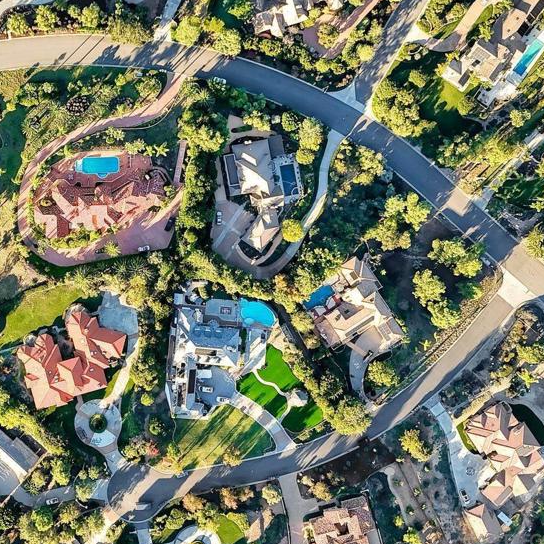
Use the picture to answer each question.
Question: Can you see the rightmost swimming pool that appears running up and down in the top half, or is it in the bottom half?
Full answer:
The top half of the photo is where the rightmost swimming pool that appears running up and down is.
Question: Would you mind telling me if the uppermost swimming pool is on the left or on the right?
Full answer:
You can find the uppermost swimming pool on the right side of the picture.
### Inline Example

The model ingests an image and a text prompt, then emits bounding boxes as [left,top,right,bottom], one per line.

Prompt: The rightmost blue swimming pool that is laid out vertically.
[279,162,300,197]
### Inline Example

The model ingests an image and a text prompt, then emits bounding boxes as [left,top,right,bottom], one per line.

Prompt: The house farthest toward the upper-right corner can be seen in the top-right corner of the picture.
[441,0,543,90]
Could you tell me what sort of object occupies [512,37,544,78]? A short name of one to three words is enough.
swimming pool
